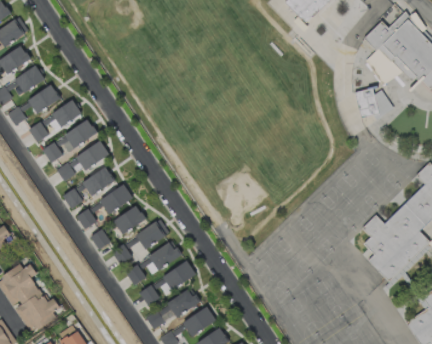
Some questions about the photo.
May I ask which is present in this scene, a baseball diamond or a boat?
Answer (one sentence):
There is a baseball diamond in the scene.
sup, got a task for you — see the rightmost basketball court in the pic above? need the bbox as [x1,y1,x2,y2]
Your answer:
[361,143,406,188]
